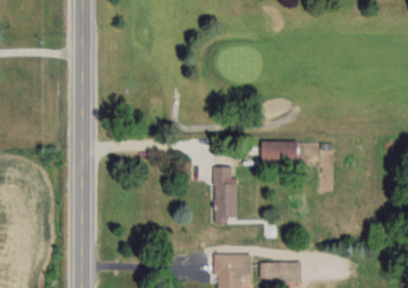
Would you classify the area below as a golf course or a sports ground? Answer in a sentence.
It's a golf course.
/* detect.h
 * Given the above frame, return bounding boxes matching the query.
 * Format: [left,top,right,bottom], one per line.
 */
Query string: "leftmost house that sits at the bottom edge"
[213,252,251,288]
